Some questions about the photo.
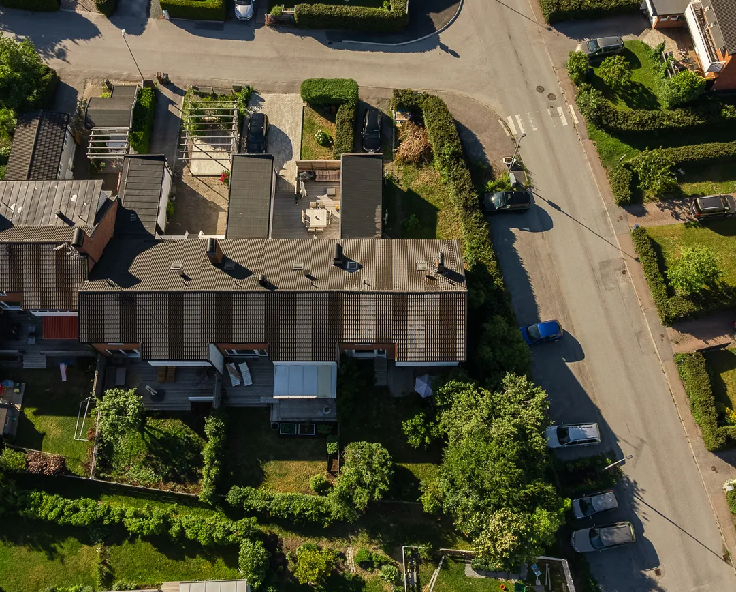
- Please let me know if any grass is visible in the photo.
Yes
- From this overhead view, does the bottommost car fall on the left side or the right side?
right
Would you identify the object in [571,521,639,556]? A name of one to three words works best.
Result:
car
